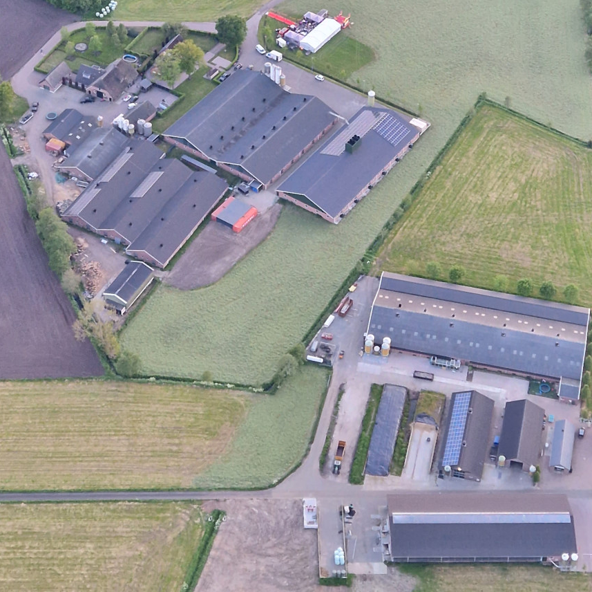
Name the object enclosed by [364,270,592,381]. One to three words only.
barn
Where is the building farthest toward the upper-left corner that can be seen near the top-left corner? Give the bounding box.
[37,59,75,94]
